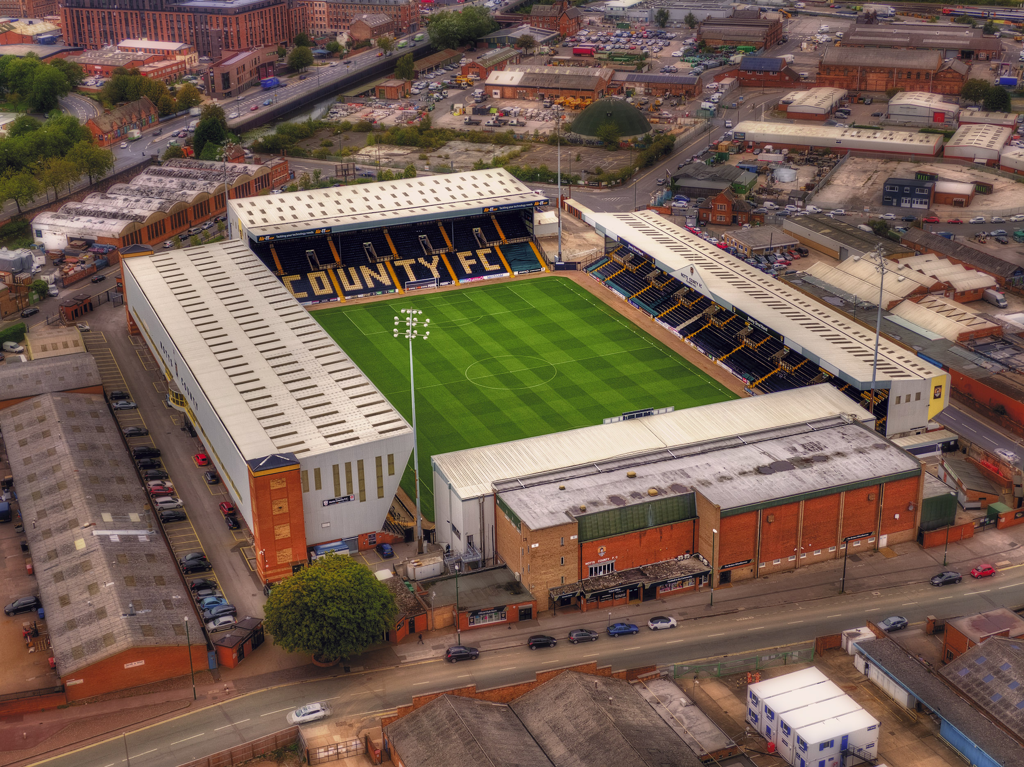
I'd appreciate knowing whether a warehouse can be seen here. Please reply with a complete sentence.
Yes, a warehouse appears in the view.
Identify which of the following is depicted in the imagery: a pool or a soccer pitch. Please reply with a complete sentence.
It is a soccer pitch that can be seen here.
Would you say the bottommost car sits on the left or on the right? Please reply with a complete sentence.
The bottommost car appears in the left half of the scene.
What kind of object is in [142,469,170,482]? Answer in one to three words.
vehicle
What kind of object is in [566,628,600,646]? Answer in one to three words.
car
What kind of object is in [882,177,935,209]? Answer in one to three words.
building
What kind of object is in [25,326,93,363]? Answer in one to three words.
shed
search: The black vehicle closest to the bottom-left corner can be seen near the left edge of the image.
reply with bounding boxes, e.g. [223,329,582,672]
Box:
[7,596,40,616]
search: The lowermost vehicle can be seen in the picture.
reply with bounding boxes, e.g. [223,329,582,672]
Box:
[291,702,328,725]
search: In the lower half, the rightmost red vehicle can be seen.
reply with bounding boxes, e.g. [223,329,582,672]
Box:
[970,564,997,580]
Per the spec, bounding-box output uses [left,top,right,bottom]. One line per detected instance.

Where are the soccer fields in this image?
[310,276,741,518]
